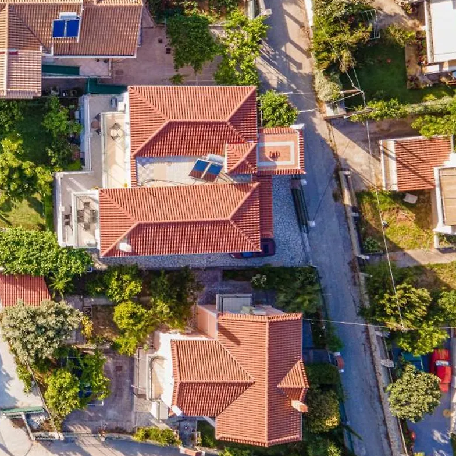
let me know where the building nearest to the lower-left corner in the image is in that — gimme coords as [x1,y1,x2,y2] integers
[139,289,310,447]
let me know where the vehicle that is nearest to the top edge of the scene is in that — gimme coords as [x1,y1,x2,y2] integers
[226,239,276,264]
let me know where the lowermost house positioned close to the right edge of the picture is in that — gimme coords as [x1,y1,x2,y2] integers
[364,134,456,249]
